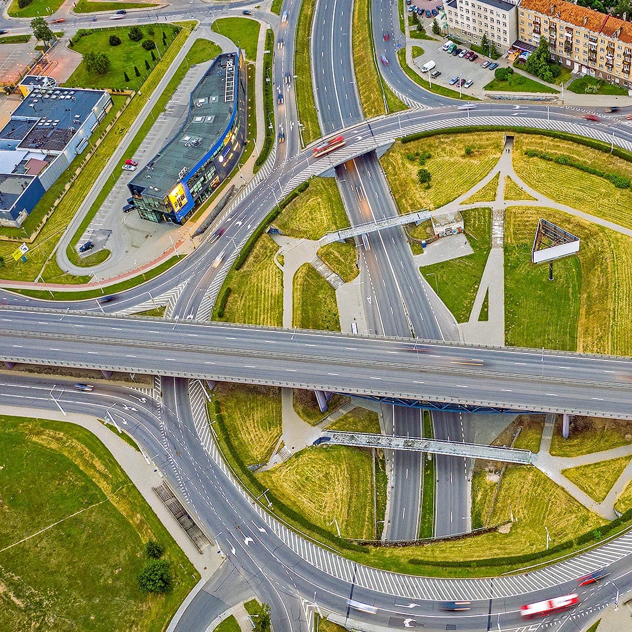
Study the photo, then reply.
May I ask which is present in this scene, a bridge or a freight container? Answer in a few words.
bridge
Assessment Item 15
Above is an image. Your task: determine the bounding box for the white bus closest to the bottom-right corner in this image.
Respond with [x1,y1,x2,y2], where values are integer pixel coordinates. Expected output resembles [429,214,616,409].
[523,592,575,618]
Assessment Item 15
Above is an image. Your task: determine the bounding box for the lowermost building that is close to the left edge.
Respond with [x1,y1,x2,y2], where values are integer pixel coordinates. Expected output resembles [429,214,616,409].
[0,172,47,229]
